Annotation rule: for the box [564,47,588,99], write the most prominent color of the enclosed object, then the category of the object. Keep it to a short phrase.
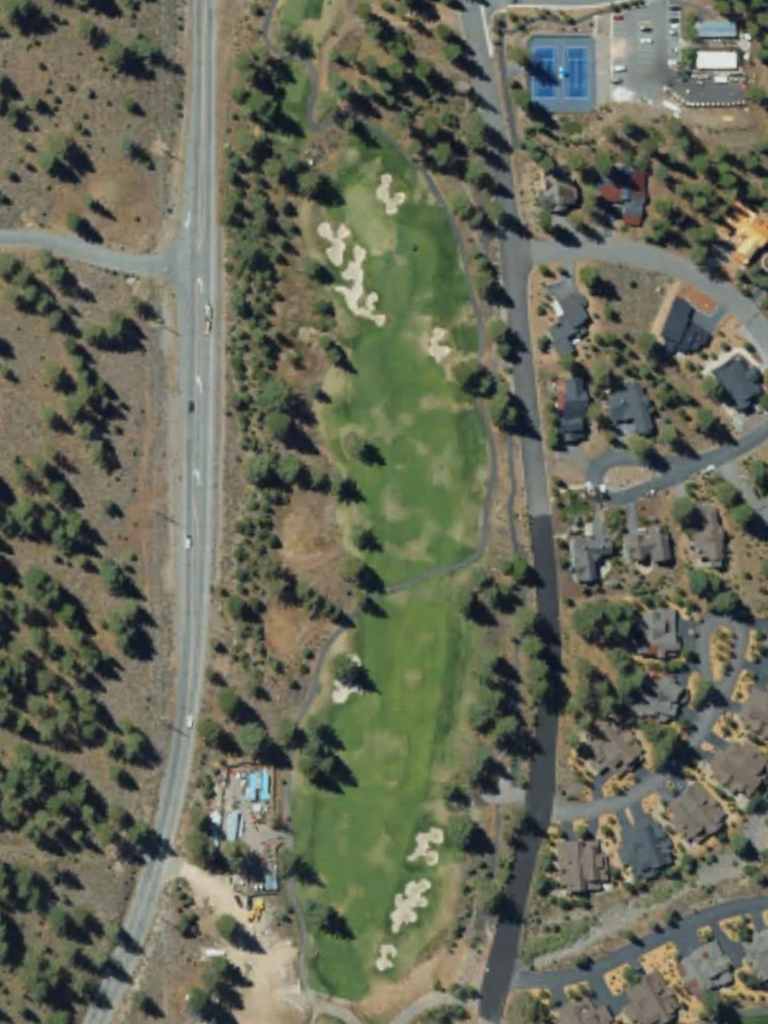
blue tennis court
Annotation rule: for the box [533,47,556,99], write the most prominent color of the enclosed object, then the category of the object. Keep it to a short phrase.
blue tennis court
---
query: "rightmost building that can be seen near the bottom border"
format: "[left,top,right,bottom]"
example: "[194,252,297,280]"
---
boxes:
[736,935,768,984]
